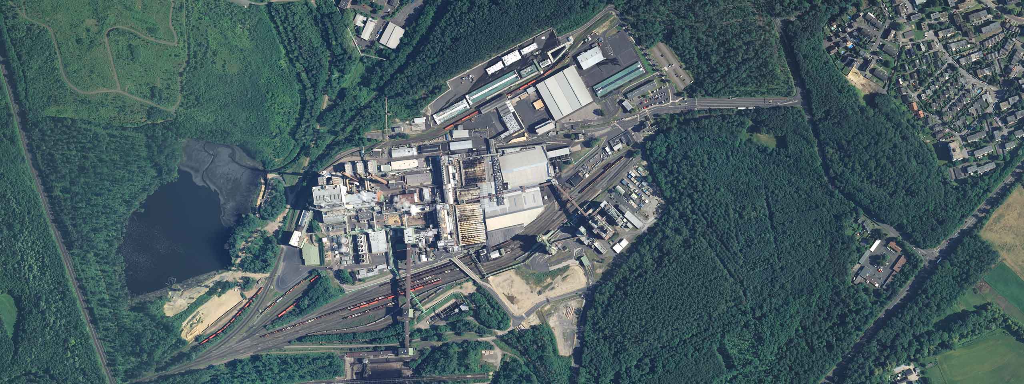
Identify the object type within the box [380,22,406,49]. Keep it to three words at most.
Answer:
building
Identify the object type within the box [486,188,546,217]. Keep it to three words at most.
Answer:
building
